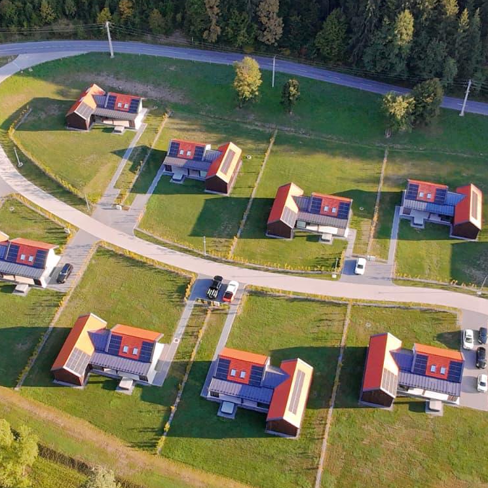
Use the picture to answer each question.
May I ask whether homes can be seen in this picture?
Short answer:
Yes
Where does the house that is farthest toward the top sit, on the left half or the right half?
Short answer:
left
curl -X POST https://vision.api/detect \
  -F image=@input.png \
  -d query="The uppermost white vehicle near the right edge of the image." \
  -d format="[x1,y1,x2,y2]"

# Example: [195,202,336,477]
[462,328,475,350]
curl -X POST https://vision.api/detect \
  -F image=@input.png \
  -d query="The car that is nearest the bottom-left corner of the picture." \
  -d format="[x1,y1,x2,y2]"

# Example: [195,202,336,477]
[56,264,74,282]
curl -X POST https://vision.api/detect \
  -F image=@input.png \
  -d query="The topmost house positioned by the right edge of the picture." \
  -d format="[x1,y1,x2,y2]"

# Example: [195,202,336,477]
[396,181,483,242]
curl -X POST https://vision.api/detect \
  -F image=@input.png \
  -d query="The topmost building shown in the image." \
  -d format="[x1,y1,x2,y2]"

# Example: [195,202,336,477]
[65,86,149,133]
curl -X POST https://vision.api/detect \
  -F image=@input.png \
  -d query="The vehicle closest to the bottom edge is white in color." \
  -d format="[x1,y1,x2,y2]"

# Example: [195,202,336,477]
[476,371,488,394]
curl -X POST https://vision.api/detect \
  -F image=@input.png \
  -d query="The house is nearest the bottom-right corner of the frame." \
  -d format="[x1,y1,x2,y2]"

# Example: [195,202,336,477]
[358,332,465,416]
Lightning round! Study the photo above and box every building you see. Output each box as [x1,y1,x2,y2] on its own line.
[203,349,314,441]
[358,332,465,416]
[65,86,149,133]
[396,181,483,242]
[161,141,242,194]
[50,313,171,393]
[265,183,355,243]
[0,232,65,297]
